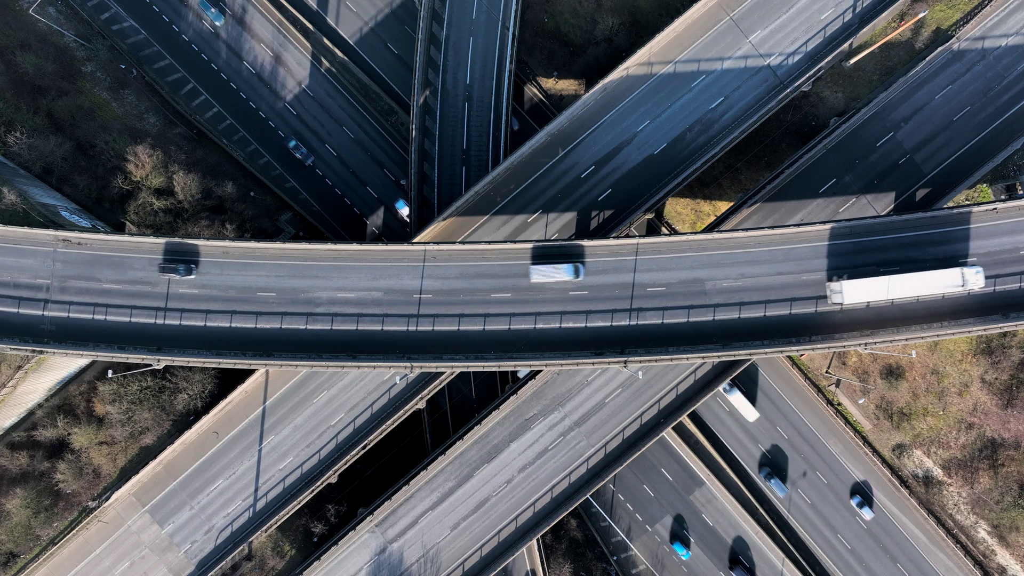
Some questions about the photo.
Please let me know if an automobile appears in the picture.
Yes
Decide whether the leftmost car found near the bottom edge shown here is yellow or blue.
blue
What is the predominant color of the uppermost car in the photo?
blue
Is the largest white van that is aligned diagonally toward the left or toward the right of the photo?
right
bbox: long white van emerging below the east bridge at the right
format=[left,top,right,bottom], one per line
[718,379,762,424]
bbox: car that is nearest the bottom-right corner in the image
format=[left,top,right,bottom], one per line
[848,492,875,521]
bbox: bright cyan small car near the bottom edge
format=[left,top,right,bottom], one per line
[668,535,692,560]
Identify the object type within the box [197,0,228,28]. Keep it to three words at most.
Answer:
car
